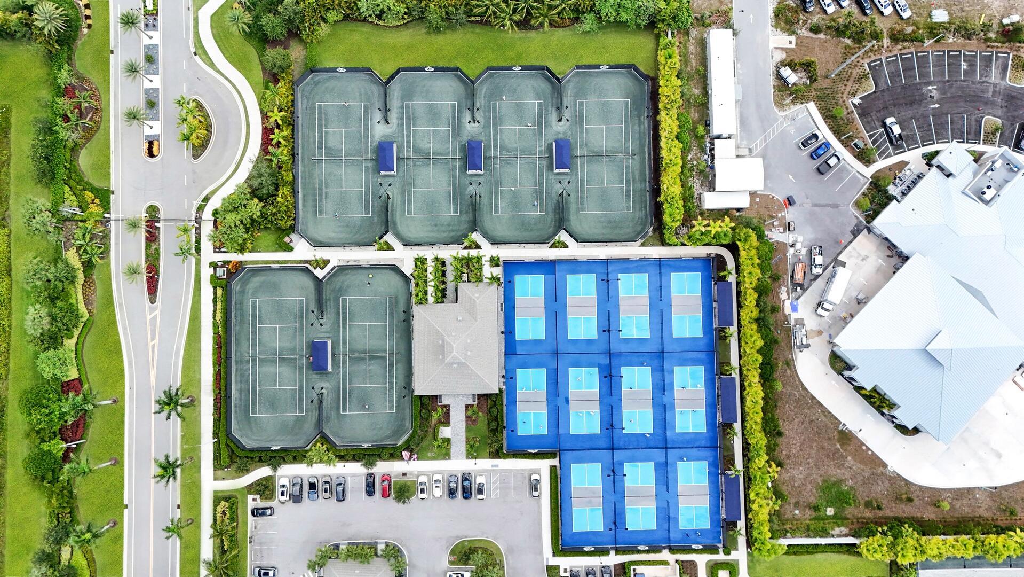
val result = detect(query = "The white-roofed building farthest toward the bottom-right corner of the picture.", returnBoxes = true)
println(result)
[833,141,1024,444]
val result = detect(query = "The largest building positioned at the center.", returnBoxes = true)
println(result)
[414,282,499,395]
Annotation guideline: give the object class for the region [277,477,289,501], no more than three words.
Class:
vehicle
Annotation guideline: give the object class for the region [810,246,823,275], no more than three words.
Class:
vehicle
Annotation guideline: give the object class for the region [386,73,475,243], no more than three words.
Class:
tennis court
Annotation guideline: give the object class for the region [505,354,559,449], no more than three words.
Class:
sports court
